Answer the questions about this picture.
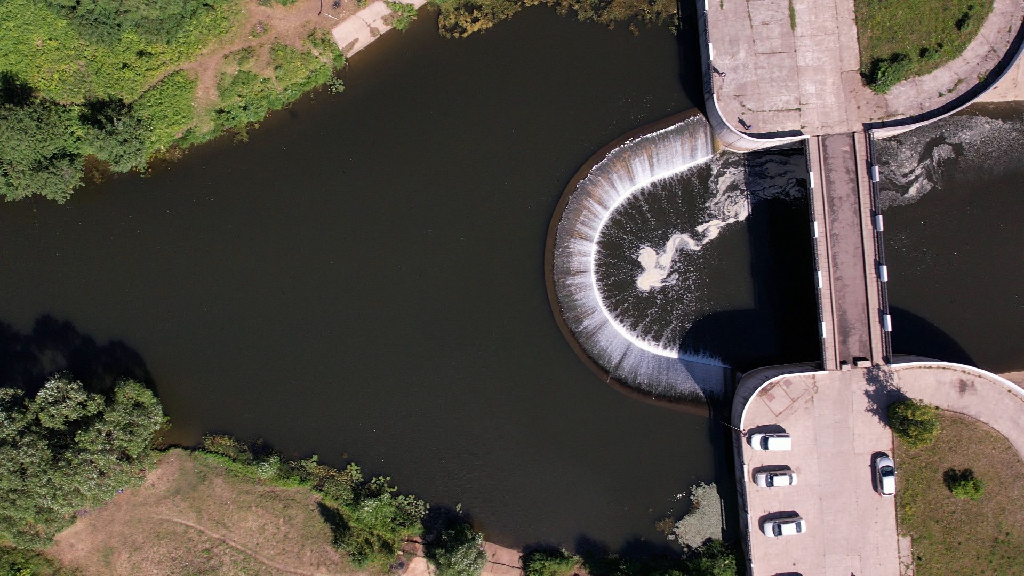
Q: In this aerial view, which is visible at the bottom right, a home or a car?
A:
car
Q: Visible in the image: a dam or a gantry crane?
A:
dam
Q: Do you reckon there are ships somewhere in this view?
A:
No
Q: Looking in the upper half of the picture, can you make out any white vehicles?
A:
No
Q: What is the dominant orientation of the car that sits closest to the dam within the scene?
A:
from left to right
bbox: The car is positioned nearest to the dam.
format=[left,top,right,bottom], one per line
[751,432,794,452]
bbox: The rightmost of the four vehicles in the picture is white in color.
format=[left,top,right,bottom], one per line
[875,455,899,497]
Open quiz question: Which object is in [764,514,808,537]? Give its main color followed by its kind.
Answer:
white car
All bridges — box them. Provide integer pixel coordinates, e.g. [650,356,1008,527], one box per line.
[806,129,890,371]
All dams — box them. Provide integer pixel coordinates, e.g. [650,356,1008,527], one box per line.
[544,106,749,428]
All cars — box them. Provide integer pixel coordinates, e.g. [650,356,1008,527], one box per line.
[875,455,899,497]
[755,469,798,489]
[751,432,794,452]
[764,514,808,537]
